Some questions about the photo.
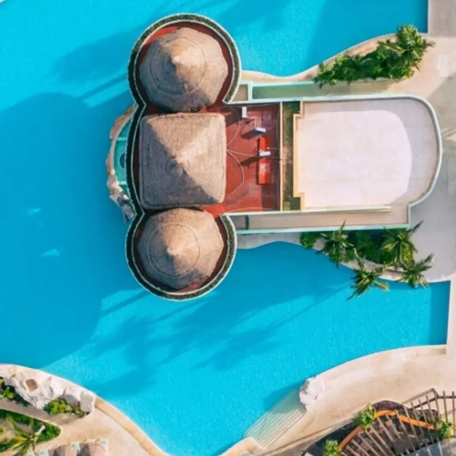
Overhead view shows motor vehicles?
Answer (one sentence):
No, there appears to be no motor vehicle in this shot.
